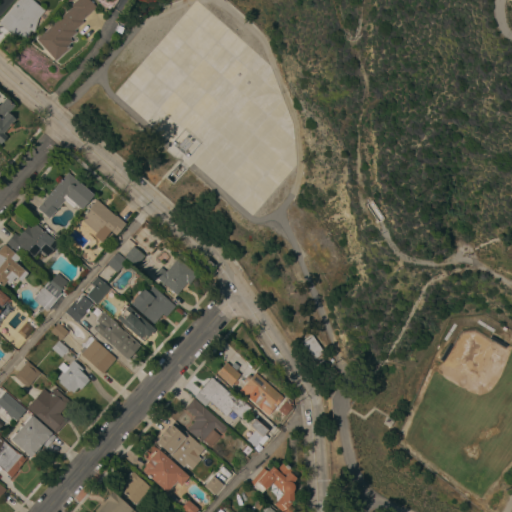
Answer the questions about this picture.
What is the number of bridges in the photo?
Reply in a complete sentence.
The count of bridges is 0.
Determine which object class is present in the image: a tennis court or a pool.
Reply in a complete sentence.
The one in the frame is a pool.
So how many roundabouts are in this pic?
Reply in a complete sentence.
Not a single roundabout can be seen.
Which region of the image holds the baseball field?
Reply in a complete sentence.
The baseball field is in the bottom right part of the image.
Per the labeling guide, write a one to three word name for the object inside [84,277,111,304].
house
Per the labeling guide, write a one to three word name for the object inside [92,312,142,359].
building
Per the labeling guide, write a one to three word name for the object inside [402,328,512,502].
baseball field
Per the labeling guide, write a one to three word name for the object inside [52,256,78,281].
swimming pool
